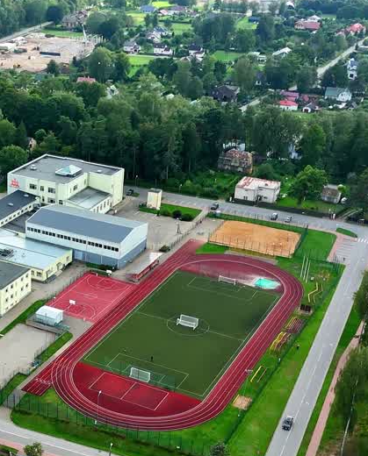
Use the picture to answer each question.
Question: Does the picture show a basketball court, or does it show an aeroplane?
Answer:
basketball court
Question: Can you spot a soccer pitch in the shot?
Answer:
Yes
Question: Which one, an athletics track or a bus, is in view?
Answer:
athletics track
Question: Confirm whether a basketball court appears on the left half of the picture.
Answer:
Yes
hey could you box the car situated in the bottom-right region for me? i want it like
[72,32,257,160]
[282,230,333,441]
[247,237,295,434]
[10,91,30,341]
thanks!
[281,415,294,429]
